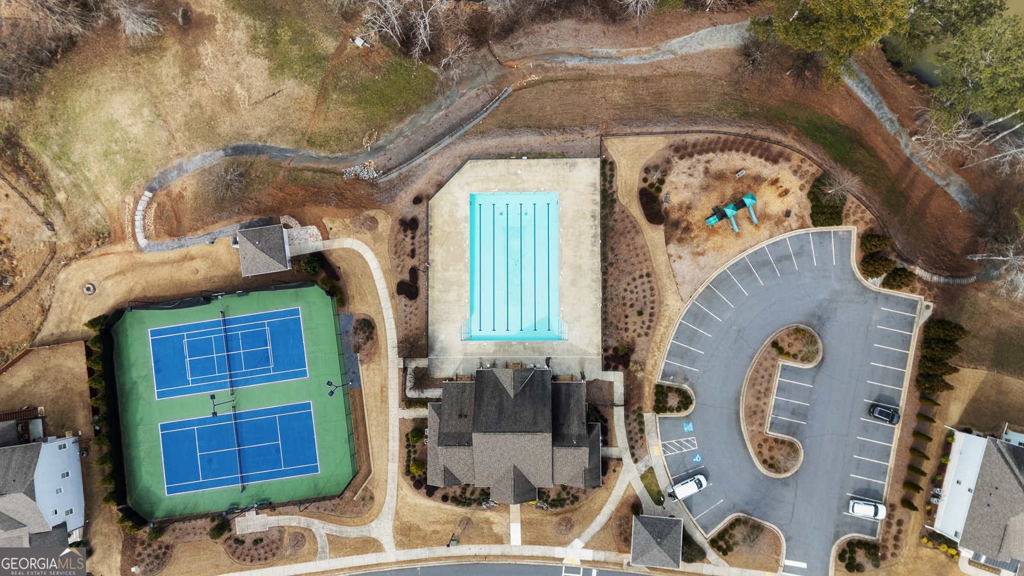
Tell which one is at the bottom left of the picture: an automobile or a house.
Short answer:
house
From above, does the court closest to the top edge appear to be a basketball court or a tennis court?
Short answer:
tennis court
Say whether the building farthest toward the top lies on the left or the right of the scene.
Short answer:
left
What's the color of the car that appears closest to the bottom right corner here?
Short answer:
white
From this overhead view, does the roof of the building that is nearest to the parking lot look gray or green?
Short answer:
gray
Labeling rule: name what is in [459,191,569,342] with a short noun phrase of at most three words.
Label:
swimming pool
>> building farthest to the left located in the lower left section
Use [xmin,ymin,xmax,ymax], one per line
[0,406,84,576]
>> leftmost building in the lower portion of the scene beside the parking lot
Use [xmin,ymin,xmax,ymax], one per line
[427,360,602,505]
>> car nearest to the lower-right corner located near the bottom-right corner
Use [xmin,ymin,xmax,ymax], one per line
[847,499,884,519]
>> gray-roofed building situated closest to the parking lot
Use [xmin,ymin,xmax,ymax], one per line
[629,510,684,569]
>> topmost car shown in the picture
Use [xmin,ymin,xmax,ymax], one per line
[866,404,899,422]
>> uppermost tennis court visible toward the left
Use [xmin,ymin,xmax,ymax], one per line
[149,307,308,400]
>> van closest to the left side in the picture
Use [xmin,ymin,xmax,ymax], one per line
[668,475,707,504]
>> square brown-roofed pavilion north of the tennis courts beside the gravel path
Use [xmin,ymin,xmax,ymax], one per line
[226,224,296,277]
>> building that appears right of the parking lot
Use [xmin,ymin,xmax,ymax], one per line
[934,422,1024,575]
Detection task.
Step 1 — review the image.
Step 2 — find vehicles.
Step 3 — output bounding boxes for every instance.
[866,404,899,422]
[668,475,707,504]
[847,499,884,519]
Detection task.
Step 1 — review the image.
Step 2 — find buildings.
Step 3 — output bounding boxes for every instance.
[934,422,1024,575]
[226,224,296,277]
[629,510,684,569]
[0,406,84,576]
[427,360,602,505]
